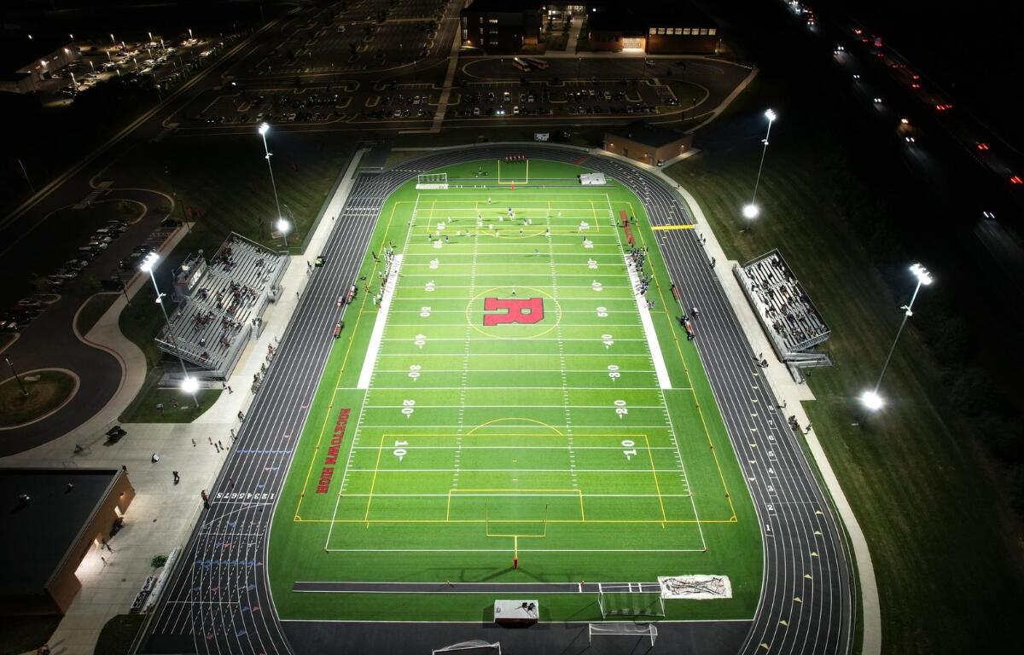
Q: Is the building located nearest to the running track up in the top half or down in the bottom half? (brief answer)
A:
top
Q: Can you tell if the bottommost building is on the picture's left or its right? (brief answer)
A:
left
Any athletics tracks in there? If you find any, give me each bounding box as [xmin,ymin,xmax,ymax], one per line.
[135,147,849,655]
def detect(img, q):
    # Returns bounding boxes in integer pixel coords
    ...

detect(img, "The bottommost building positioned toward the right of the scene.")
[605,121,697,166]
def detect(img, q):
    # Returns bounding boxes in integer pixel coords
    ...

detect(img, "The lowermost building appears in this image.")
[0,463,137,614]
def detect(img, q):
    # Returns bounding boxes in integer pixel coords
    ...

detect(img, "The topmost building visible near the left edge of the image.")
[0,34,93,96]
